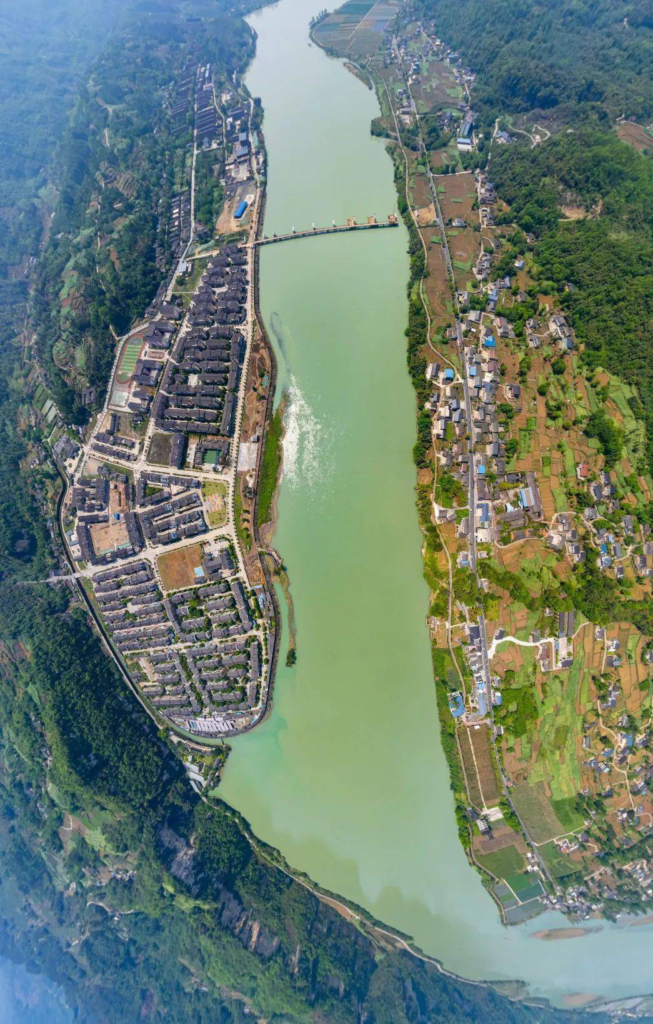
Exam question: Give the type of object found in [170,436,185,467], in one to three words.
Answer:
building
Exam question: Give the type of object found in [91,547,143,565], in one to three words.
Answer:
building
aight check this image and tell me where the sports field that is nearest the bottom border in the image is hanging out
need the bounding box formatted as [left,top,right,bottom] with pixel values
[156,543,205,589]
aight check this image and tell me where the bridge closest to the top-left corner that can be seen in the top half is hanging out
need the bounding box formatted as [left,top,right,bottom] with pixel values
[251,219,400,249]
